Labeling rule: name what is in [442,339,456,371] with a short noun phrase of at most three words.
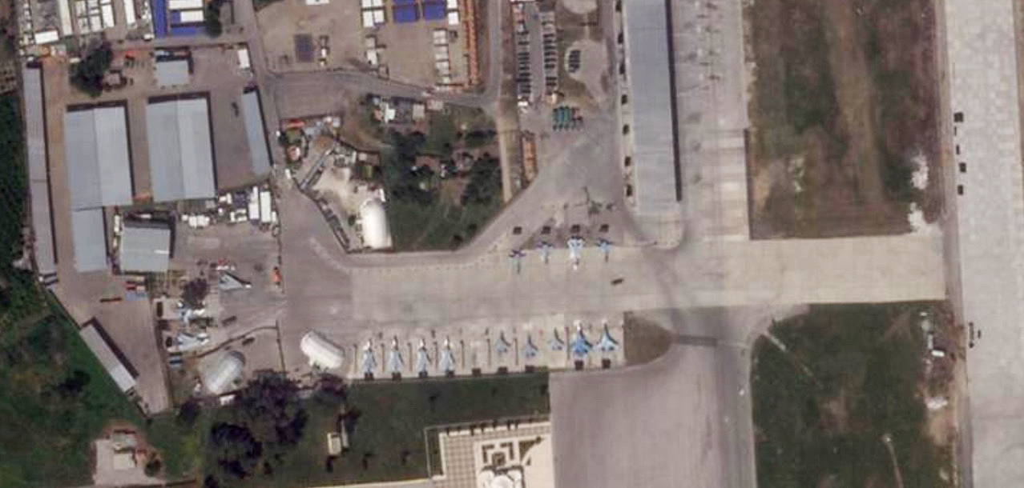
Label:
airplane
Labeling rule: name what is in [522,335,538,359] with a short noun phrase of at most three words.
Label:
airplane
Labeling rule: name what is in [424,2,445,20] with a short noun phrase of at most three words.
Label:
shed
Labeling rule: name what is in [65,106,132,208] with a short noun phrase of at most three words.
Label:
building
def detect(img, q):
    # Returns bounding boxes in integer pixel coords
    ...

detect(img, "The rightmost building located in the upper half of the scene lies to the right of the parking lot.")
[623,0,678,214]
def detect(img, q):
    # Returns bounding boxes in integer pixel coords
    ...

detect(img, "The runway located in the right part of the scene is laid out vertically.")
[947,0,1024,488]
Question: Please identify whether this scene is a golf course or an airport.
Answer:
airport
